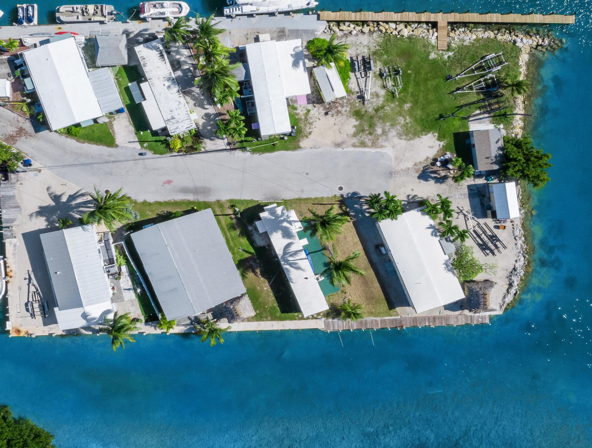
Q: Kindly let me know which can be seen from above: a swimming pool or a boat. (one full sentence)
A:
Of the two, only a boat appears.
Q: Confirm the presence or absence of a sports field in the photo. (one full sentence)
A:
No, no sports field is visible in the scene.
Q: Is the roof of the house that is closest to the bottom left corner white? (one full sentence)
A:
Yes, the roof of the house that is closest to the bottom left corner is indeed white.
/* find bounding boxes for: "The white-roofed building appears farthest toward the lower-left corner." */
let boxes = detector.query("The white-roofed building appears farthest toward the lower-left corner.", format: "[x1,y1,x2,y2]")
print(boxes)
[39,225,120,331]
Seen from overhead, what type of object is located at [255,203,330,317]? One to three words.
house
